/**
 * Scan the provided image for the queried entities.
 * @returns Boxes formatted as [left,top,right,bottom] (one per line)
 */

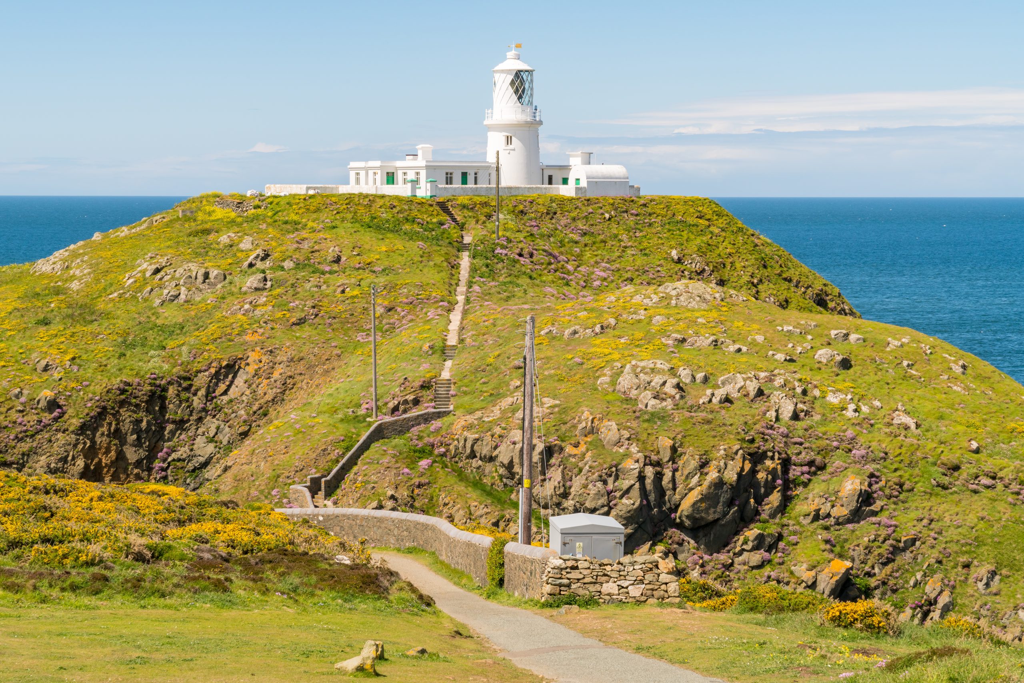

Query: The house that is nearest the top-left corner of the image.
[346,144,497,191]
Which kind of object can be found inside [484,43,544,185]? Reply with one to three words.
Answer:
lighthouse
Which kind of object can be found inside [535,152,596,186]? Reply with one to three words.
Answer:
building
